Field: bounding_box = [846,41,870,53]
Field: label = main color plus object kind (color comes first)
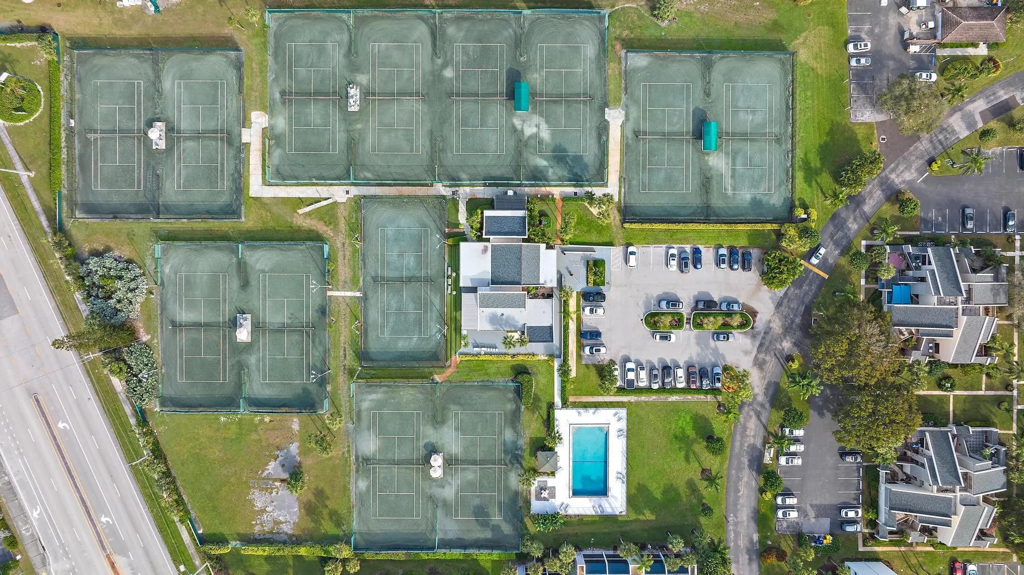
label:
white vehicle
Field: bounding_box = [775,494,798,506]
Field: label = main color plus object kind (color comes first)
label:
white vehicle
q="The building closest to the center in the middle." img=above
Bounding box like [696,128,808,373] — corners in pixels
[460,195,557,343]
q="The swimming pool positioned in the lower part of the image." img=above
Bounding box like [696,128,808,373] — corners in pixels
[531,408,627,515]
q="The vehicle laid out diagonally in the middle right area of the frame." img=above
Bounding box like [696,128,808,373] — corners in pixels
[808,244,827,266]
